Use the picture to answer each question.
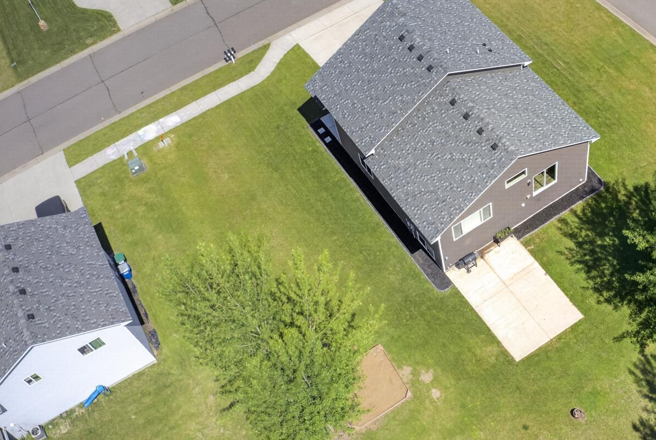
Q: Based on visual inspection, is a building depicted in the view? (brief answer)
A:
Yes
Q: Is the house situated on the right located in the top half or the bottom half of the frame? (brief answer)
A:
top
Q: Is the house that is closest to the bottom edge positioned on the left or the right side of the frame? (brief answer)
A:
left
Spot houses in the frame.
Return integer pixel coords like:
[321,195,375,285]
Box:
[306,0,598,273]
[0,207,156,429]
